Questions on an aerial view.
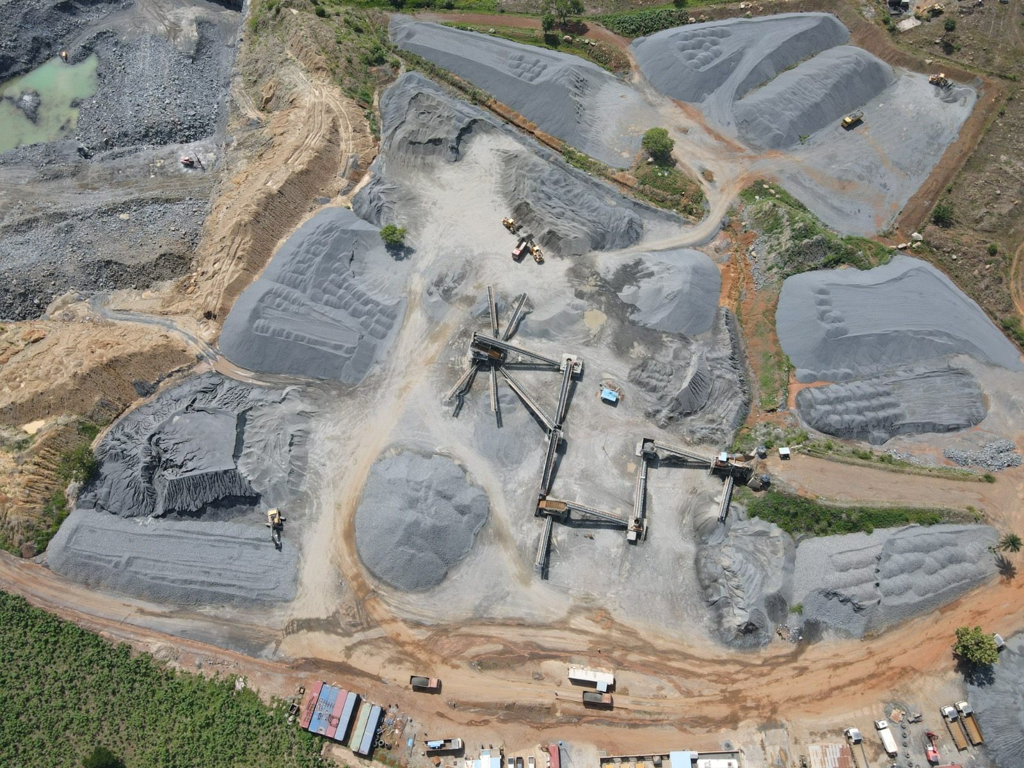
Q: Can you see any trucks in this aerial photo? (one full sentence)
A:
Yes, a truck appears in the view.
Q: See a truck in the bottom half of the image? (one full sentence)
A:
Yes, I can see a truck in the bottom half of the image.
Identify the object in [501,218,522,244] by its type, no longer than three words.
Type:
work vehicle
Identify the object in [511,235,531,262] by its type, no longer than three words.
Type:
vehicle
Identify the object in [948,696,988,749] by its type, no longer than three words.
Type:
truck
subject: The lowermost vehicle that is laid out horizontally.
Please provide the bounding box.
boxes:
[424,738,463,753]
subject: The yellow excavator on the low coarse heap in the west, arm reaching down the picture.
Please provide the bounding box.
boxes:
[264,507,282,540]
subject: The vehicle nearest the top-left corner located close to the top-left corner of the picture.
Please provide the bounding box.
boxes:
[60,51,73,72]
